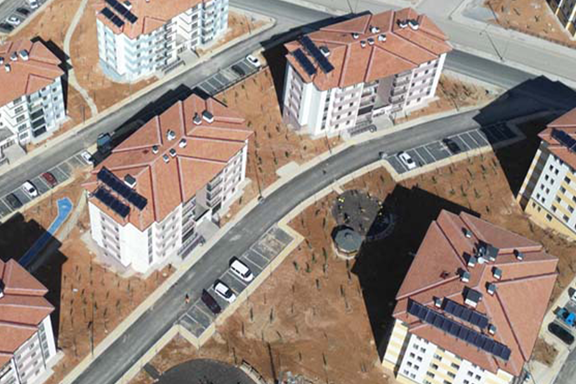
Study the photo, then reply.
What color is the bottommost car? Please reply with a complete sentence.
The bottommost car looks black in the image.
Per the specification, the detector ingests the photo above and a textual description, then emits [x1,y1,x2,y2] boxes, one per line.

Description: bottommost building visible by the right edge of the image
[380,209,559,384]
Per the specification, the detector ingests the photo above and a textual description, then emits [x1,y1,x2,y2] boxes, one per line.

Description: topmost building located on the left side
[92,0,228,82]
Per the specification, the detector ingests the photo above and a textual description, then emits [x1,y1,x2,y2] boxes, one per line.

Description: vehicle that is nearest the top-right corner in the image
[443,133,461,151]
